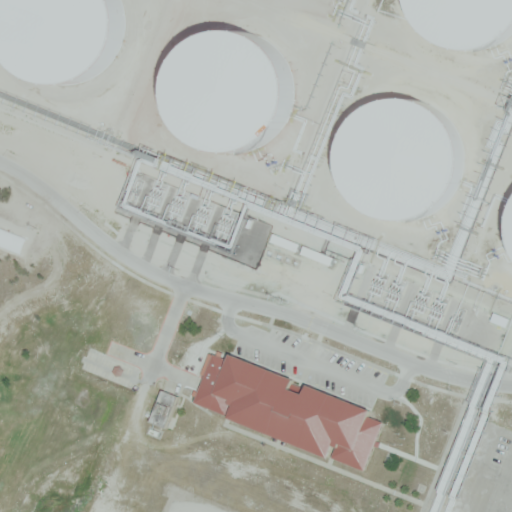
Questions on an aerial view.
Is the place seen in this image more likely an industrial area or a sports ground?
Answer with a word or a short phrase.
industrial area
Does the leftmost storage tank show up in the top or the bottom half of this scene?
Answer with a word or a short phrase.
top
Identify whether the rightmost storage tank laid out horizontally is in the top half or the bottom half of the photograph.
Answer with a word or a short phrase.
top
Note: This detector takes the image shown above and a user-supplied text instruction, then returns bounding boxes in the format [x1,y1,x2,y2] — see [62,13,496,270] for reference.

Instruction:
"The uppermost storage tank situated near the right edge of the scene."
[400,0,512,52]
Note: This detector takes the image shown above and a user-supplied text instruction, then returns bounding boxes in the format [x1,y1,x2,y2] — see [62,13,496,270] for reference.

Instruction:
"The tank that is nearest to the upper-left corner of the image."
[0,0,128,86]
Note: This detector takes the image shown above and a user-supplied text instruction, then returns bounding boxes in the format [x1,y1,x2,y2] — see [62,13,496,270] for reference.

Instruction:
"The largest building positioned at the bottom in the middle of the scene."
[192,352,383,470]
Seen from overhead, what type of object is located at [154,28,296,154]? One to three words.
storage tank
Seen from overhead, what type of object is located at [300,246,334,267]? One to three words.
building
